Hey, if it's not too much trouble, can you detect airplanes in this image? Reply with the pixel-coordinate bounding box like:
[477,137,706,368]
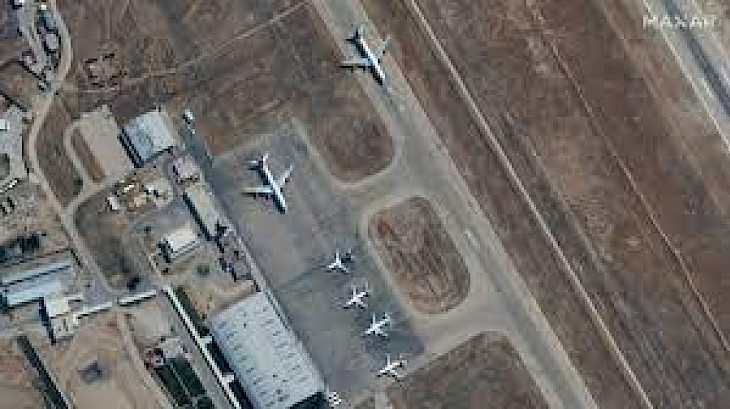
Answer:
[242,155,296,213]
[346,287,371,309]
[329,248,355,269]
[379,355,406,378]
[366,314,392,336]
[341,27,392,83]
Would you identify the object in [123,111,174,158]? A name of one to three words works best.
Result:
hangar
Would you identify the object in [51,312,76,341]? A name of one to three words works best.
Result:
building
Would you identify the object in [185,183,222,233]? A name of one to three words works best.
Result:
building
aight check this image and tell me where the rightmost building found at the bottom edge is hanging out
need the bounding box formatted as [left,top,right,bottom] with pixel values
[207,291,324,409]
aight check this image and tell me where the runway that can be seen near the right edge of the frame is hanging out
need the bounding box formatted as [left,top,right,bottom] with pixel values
[644,0,730,147]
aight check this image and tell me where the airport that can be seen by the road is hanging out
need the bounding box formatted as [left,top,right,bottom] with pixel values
[204,0,730,409]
